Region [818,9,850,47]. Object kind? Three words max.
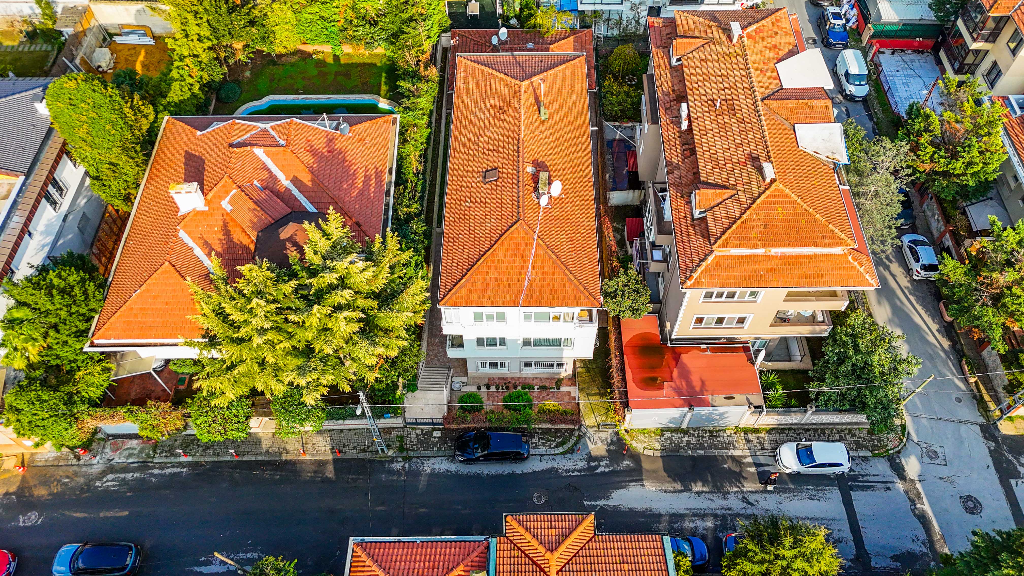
car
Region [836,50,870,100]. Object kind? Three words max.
vehicle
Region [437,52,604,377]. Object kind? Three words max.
house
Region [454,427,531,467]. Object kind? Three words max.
car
